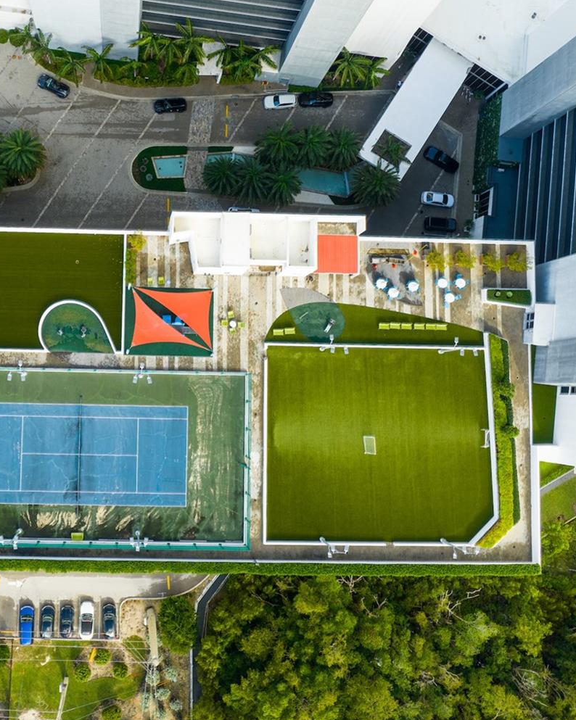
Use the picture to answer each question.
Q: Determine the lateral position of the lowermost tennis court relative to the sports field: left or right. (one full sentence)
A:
Looking at the photo, the lowermost tennis court lies to the left of the sports field.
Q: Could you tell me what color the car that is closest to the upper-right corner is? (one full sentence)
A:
In this view, the car that is closest to the upper-right corner is black.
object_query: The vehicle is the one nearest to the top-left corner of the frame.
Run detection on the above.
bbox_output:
[39,74,70,98]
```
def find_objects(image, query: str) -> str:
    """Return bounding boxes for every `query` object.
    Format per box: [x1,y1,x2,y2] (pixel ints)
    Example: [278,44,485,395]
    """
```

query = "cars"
[153,96,186,113]
[39,74,70,98]
[424,146,457,172]
[420,192,452,207]
[101,603,117,641]
[17,607,34,645]
[263,92,297,109]
[298,91,332,108]
[39,603,54,641]
[78,602,94,639]
[59,603,75,641]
